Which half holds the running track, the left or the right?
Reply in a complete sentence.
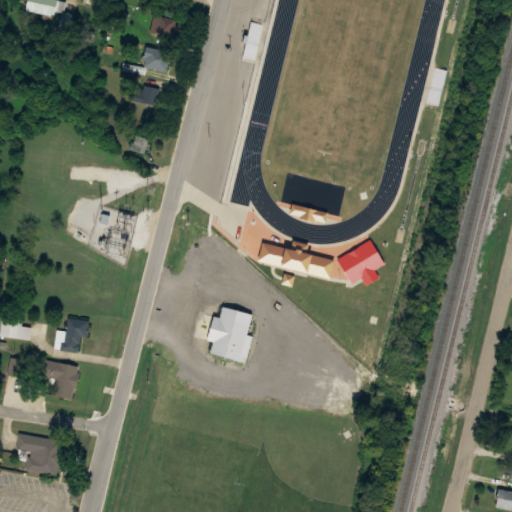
The running track appears in the right half of the scene.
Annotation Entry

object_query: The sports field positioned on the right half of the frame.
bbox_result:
[260,0,426,226]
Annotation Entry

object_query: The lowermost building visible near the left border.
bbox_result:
[16,434,58,476]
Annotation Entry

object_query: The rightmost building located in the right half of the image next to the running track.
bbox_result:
[338,240,385,286]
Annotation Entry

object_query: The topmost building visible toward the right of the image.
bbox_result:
[290,204,328,224]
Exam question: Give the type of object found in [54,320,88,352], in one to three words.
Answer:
house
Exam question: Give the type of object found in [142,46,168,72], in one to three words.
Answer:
house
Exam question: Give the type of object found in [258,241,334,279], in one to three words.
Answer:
building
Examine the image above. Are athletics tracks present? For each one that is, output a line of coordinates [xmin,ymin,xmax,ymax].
[230,0,444,244]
